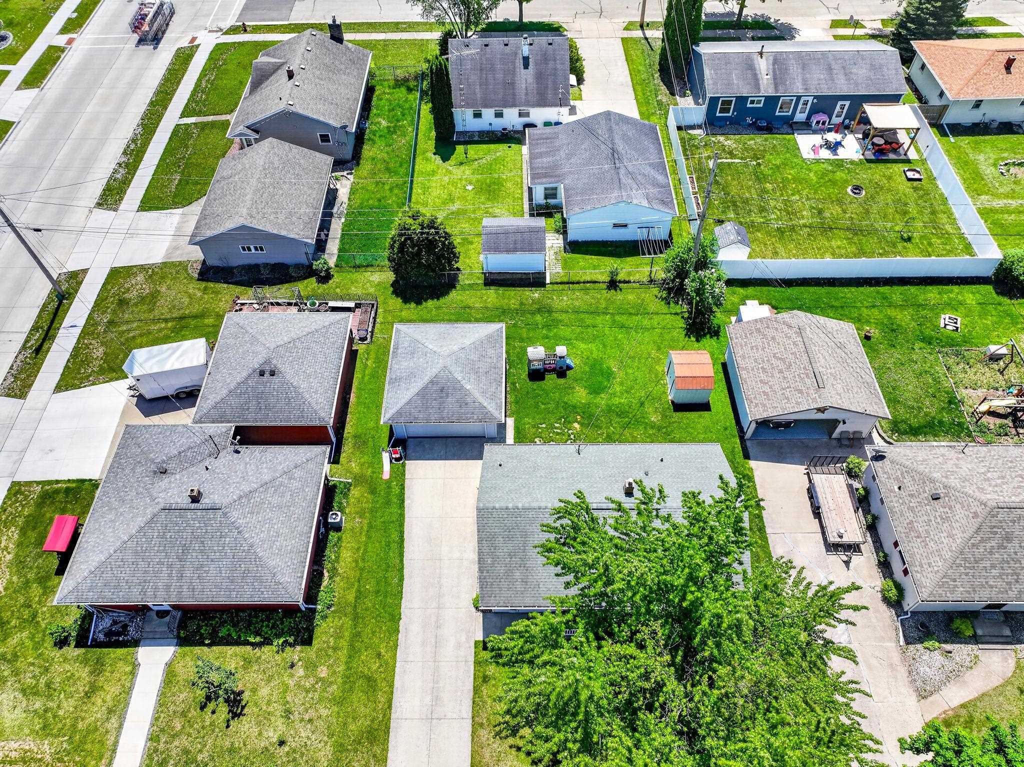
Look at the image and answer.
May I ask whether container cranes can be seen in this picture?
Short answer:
No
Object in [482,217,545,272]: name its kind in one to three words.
shed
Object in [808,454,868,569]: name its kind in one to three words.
trailer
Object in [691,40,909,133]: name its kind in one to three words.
house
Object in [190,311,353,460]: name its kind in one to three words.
building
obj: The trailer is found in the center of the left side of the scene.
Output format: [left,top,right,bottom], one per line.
[120,338,212,396]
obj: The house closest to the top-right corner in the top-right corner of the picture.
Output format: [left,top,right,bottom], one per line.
[908,39,1024,137]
